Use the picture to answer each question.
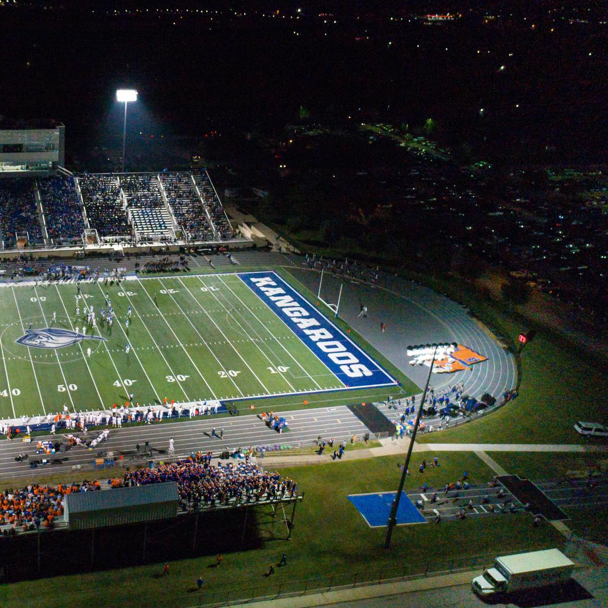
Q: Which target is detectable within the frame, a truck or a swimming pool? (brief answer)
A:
truck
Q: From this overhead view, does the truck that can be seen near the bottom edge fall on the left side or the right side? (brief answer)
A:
right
